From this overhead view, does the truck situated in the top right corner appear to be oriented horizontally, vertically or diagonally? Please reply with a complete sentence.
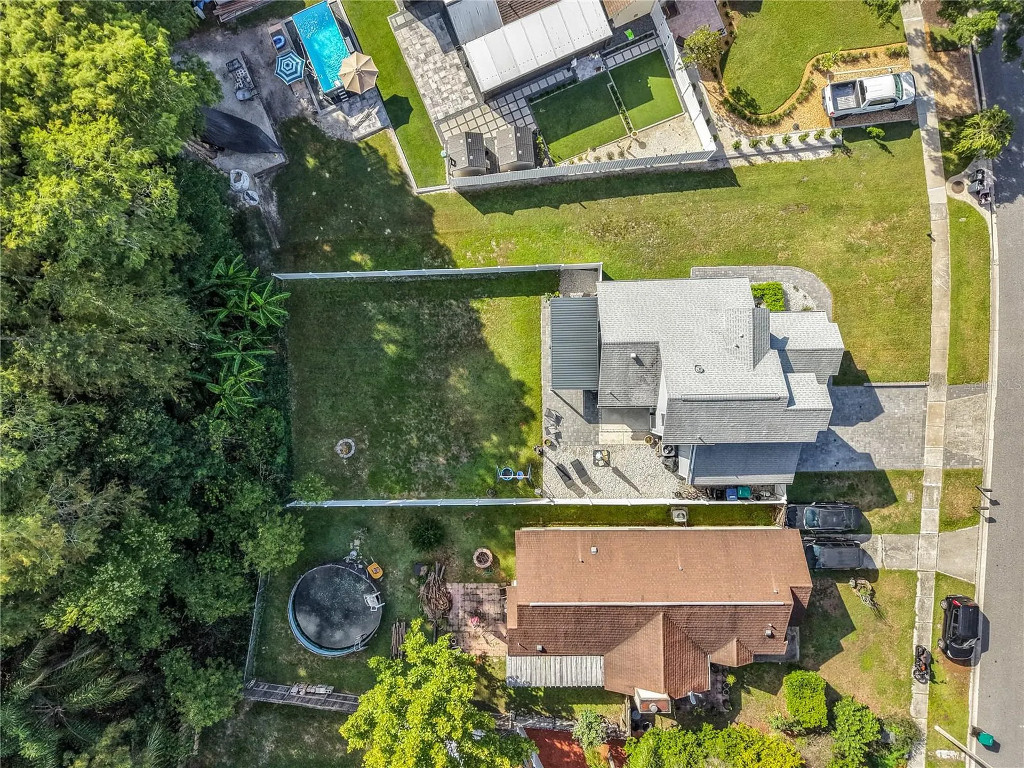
The truck situated in the top right corner has been laid out horizontally relative to the frame.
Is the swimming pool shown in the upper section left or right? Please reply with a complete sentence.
It is on the left.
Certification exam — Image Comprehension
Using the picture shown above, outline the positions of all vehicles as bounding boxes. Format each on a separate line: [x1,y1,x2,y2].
[936,592,983,665]
[916,647,934,686]
[782,499,865,538]
[801,536,866,573]
[815,69,918,122]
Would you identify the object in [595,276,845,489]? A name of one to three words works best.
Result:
house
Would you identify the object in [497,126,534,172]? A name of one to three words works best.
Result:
shed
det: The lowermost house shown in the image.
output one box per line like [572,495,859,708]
[507,525,813,715]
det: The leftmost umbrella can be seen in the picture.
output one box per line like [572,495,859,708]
[276,53,306,86]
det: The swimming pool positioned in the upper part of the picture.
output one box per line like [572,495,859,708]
[292,0,350,104]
